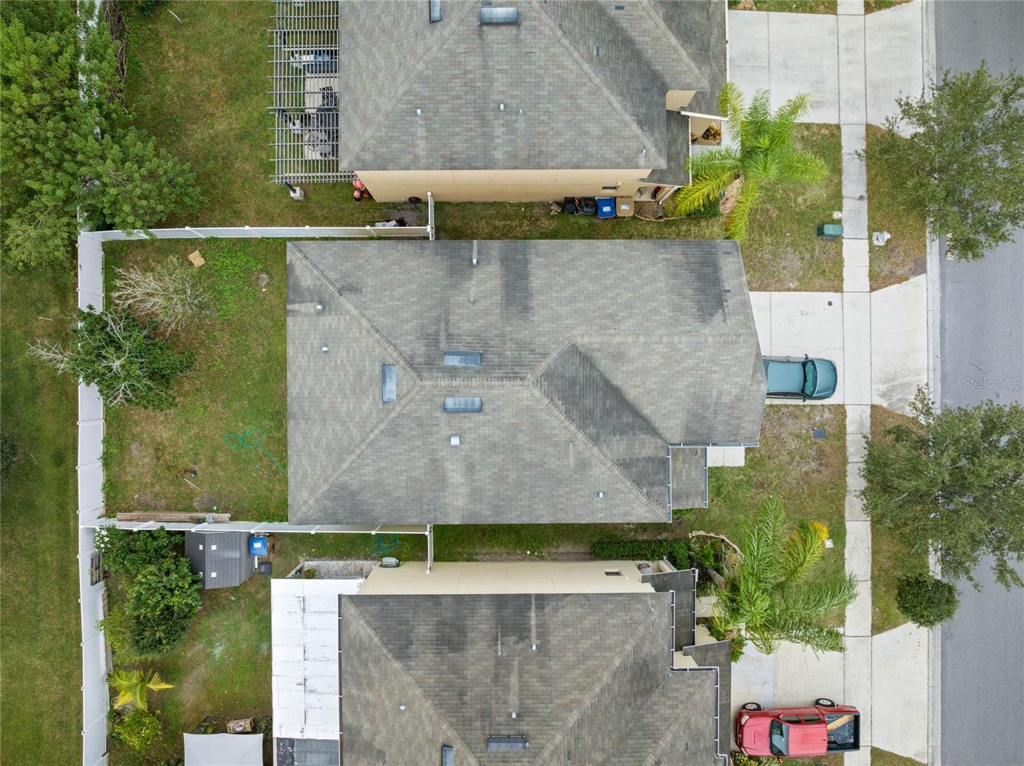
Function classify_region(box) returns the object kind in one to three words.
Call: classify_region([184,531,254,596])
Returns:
shed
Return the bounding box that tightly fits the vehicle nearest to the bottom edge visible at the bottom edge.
[732,698,860,762]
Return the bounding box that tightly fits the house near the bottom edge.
[339,561,731,766]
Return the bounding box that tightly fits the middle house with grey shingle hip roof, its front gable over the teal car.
[286,238,767,526]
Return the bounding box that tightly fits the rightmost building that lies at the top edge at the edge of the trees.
[337,0,731,206]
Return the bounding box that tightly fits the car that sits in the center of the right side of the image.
[762,351,836,405]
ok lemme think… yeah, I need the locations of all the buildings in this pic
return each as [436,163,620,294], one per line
[339,561,731,766]
[286,238,767,526]
[337,0,731,206]
[184,531,254,596]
